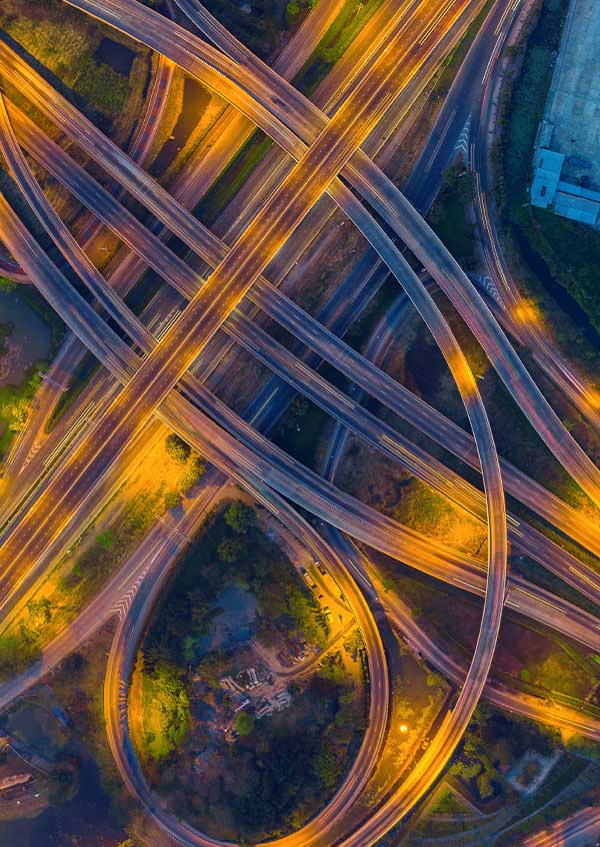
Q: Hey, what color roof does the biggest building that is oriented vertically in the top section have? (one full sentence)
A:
The color of the roof on the biggest building that is oriented vertically in the top section is blue.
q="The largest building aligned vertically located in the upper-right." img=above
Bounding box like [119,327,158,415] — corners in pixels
[528,149,564,209]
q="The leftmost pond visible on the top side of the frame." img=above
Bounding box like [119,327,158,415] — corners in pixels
[0,290,52,371]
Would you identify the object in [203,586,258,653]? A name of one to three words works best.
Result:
pond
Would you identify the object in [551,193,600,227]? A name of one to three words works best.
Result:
building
